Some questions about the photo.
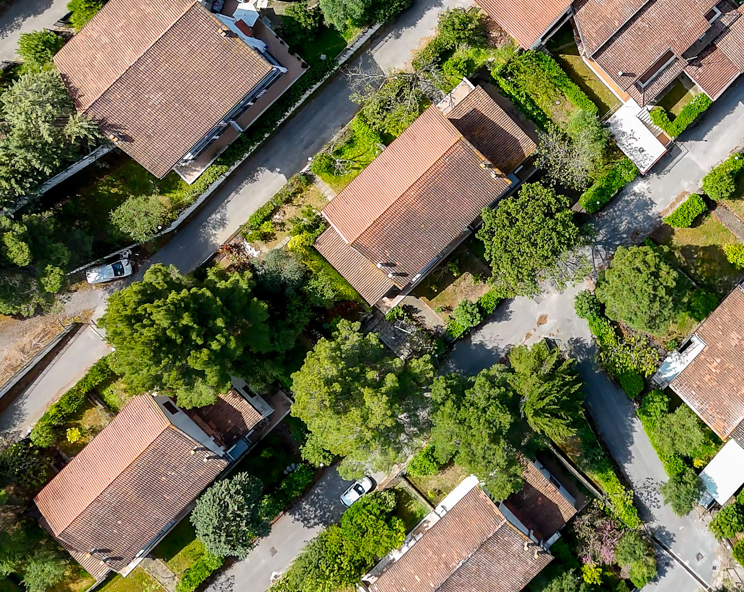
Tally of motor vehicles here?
2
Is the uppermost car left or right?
left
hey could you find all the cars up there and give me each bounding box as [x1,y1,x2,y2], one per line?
[336,473,375,507]
[84,259,133,288]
